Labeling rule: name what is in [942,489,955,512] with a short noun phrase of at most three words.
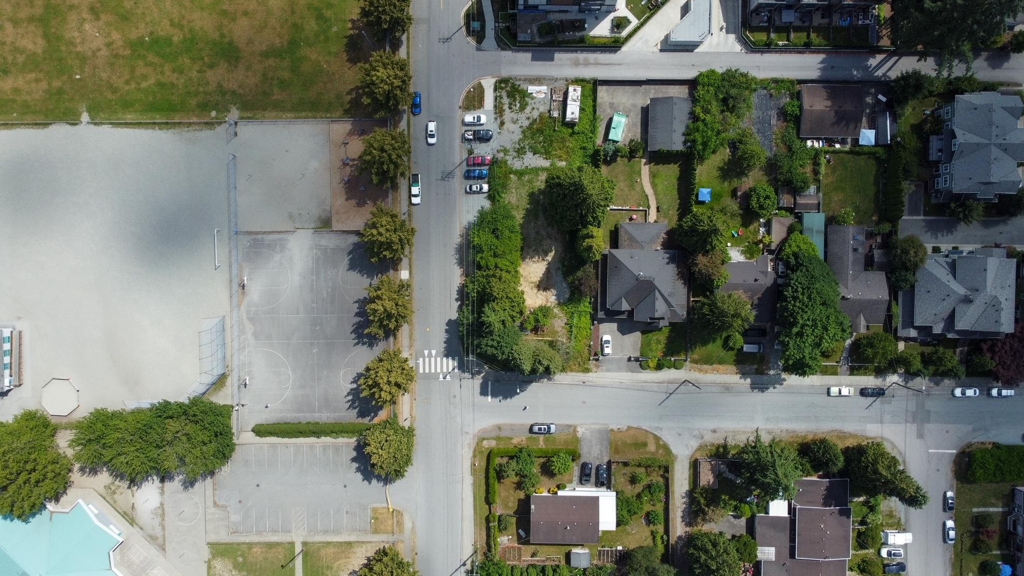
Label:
vehicle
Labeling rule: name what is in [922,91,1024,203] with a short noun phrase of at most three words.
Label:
house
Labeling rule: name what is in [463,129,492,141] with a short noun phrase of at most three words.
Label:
vehicle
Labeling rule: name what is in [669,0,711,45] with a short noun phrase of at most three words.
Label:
building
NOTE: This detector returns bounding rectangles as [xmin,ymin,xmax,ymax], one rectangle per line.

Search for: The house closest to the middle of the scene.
[598,223,687,326]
